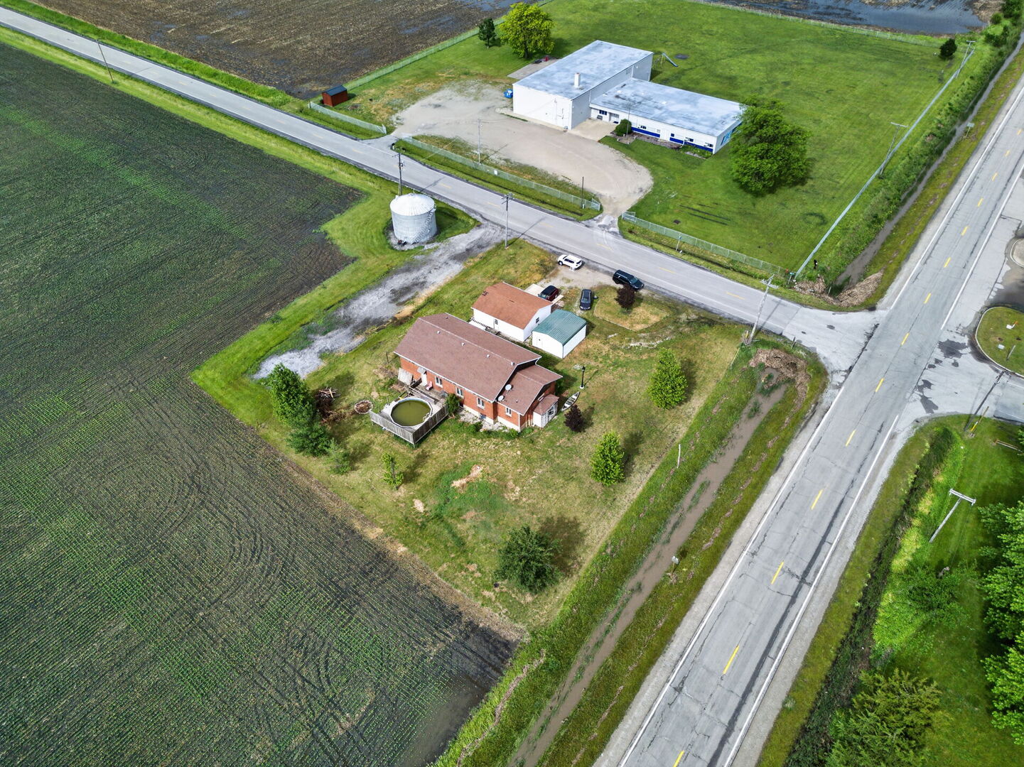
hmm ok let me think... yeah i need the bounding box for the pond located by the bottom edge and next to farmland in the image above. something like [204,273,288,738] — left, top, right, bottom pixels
[405,632,522,767]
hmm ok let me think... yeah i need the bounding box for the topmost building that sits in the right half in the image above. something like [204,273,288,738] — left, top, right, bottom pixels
[512,39,745,152]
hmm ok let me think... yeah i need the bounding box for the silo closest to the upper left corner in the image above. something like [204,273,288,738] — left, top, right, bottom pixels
[388,191,439,244]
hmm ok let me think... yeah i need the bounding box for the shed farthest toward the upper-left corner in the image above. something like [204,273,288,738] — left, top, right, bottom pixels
[321,85,348,106]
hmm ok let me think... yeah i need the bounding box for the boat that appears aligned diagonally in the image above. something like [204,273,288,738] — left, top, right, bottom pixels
[562,390,580,411]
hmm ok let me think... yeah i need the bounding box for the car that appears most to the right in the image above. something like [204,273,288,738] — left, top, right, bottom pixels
[613,266,644,288]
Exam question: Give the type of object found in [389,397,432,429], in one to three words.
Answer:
swimming pool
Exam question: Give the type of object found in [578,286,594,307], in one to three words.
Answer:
car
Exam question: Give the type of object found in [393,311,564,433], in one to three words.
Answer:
house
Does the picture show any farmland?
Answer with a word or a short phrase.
Yes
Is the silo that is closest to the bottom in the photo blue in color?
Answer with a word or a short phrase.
No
